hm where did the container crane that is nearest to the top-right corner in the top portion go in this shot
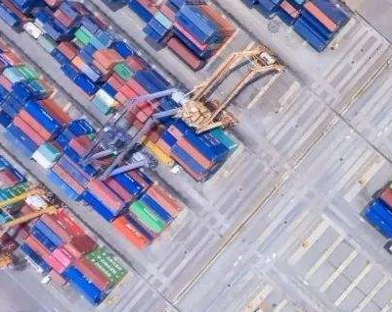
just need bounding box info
[171,44,286,146]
